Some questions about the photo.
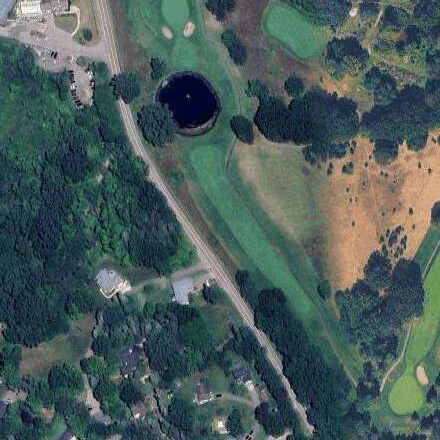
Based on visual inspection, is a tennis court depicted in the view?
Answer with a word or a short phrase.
No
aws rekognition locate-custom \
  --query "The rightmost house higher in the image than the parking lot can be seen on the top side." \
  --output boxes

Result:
[40,0,69,14]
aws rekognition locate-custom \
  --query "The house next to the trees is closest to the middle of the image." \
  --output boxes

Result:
[175,278,193,303]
